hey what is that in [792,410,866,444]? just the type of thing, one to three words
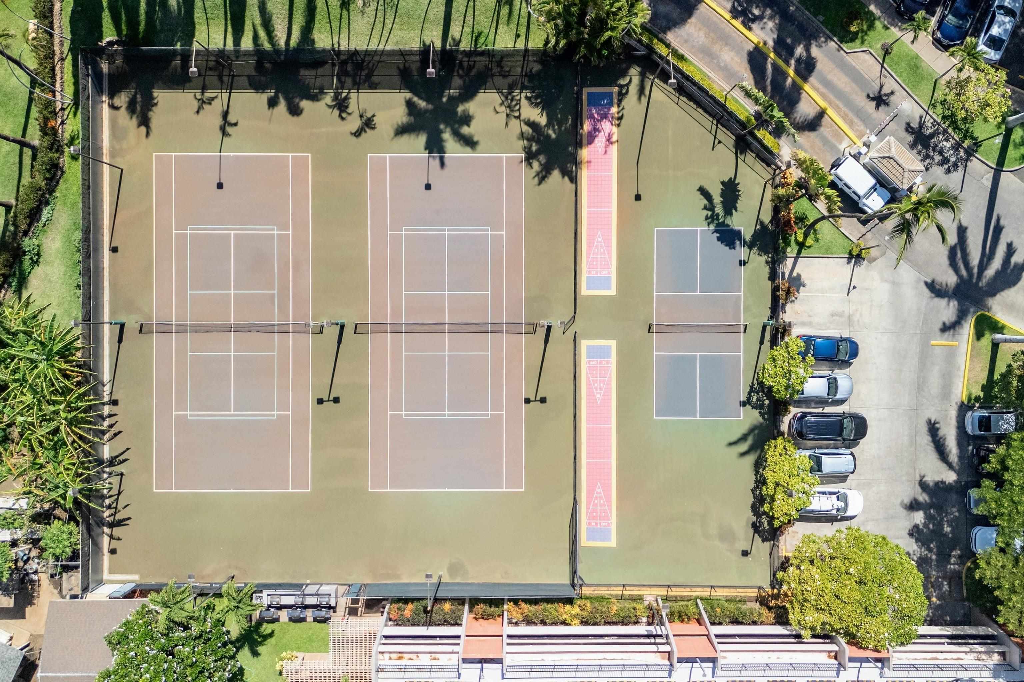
car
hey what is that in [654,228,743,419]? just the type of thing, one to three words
sports court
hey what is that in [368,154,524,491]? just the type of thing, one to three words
tennis court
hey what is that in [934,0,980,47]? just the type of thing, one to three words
car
